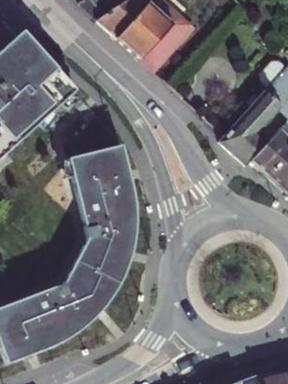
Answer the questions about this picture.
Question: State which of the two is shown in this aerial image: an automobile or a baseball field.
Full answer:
Of the two, only an automobile appears.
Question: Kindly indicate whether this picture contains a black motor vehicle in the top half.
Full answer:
No, there is no black motor vehicle in the top half.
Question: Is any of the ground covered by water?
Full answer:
No, the picture contains no water.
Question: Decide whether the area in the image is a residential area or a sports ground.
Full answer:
The picture captures a residential area.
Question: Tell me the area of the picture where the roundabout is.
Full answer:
The roundabout sits in the bottom right section of the image.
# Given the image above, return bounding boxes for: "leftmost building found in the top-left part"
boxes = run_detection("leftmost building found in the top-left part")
[0,29,78,138]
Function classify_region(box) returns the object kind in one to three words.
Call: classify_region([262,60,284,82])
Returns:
shed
